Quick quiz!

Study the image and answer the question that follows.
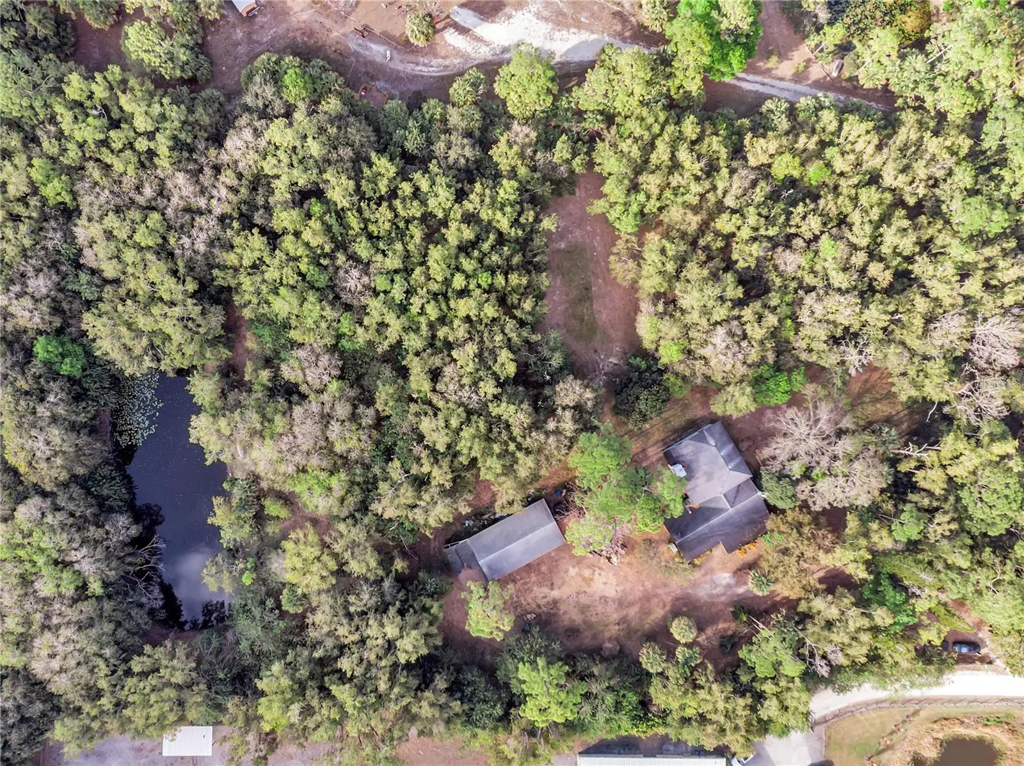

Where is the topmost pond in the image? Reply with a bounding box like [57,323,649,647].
[105,360,240,633]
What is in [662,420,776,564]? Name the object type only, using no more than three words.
house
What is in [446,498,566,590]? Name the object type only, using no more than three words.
shed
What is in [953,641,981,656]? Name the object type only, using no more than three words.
car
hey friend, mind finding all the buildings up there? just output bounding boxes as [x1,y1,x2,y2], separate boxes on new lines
[446,498,566,590]
[577,751,726,766]
[162,720,217,756]
[662,420,776,564]
[233,0,262,23]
